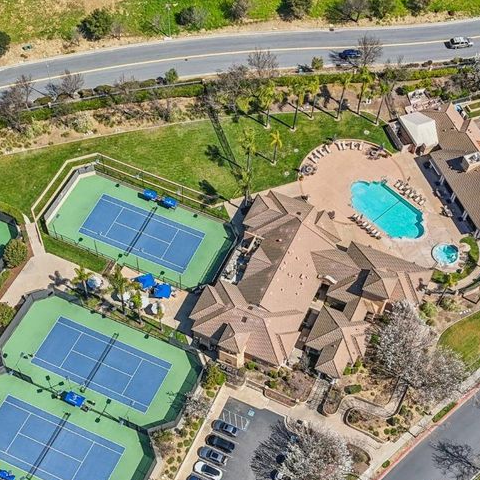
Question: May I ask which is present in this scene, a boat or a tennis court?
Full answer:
It is a tennis court that can be seen here.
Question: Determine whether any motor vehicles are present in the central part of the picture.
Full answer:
No, looking in the central part of the picture, there is no motor vehicle.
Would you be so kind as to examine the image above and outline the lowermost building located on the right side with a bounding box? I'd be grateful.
[189,191,432,382]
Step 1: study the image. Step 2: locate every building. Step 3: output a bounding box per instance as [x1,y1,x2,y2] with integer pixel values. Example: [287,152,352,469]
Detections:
[403,99,480,230]
[189,191,432,382]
